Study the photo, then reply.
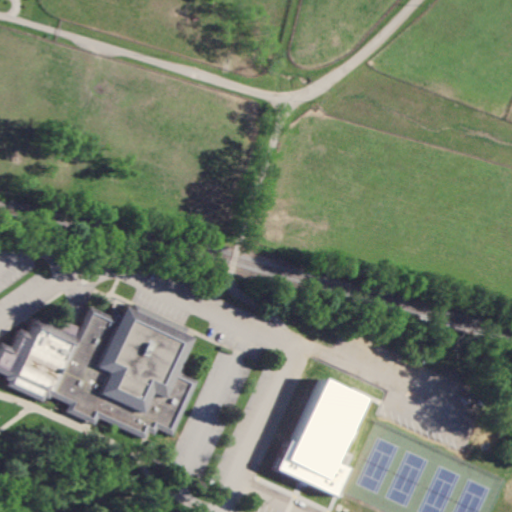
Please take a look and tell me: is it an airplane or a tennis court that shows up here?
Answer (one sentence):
This aerial view contains a tennis court.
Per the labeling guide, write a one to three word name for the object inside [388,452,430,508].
tennis court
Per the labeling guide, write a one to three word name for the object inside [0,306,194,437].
building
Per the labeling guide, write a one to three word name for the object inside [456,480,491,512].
tennis court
